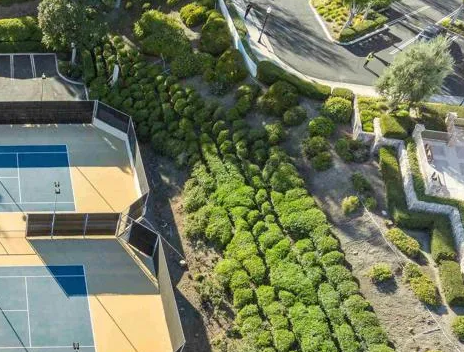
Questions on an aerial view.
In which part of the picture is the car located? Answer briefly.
top right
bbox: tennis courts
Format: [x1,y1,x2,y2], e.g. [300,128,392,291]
[0,144,76,212]
[0,265,95,352]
